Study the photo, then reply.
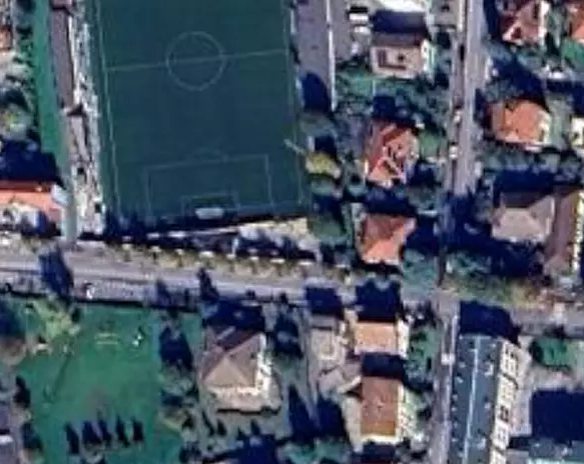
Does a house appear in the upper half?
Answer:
Yes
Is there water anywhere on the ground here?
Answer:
No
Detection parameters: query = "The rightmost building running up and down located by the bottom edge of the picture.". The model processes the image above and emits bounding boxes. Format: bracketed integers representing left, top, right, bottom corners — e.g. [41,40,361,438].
[450,335,516,464]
